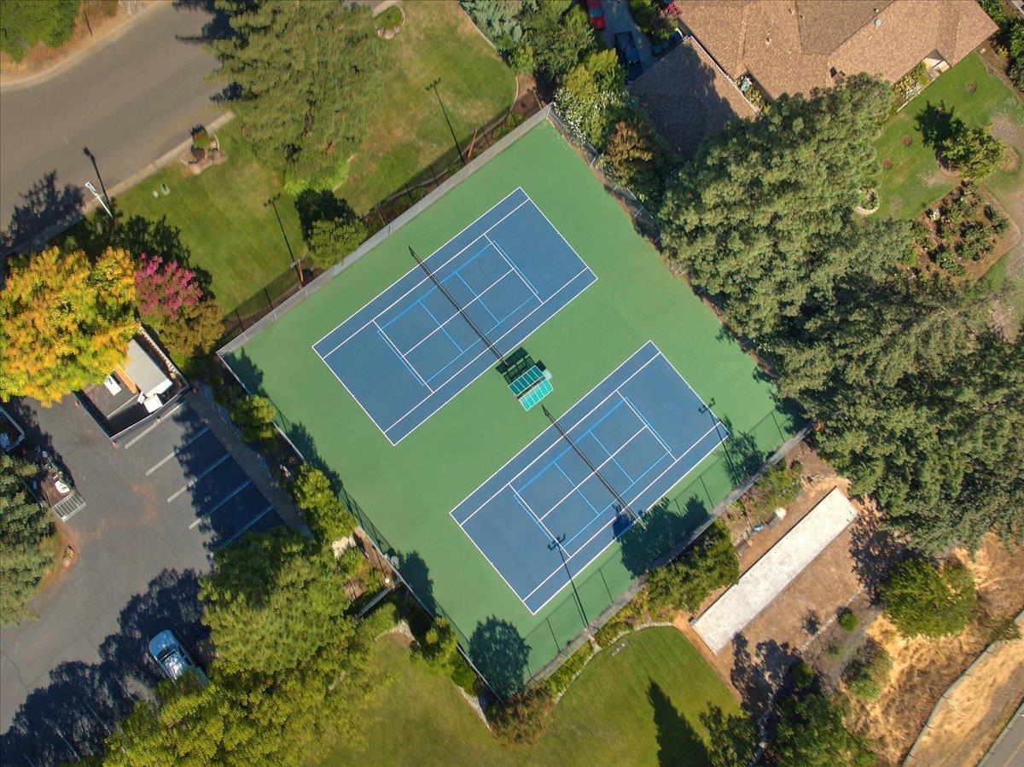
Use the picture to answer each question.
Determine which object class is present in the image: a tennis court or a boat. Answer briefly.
tennis court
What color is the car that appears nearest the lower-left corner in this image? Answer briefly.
blue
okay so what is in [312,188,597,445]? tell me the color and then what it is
blue tennis court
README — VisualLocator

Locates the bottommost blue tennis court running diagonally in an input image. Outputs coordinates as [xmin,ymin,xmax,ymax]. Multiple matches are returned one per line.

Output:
[450,341,729,613]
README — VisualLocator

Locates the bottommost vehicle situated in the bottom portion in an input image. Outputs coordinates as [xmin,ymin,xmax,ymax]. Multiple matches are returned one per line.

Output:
[149,624,201,694]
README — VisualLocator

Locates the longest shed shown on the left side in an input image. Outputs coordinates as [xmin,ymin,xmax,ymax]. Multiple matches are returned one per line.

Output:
[123,338,176,397]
